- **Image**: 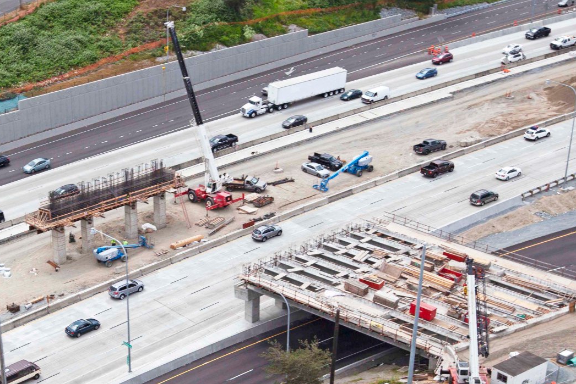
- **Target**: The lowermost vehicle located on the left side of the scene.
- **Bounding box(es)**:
[0,359,43,384]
